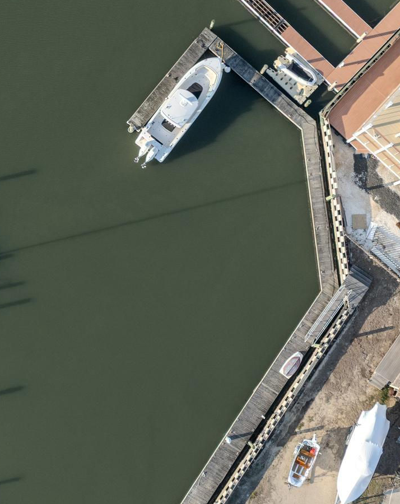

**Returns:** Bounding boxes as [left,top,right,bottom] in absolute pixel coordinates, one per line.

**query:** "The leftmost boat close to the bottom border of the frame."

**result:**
[291,439,322,494]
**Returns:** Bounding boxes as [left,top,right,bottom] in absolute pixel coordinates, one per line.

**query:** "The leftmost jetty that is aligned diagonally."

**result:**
[127,28,217,132]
